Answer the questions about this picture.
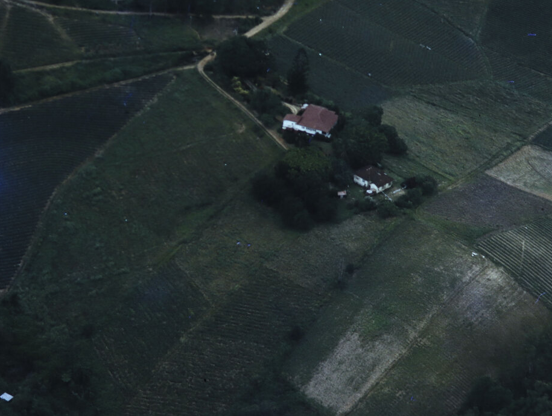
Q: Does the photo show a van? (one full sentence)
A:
No, no van is visible in the view.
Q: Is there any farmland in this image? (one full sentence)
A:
Yes, the picture does contain farmland.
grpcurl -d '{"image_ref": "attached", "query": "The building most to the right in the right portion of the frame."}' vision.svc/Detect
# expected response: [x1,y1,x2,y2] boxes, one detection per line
[354,167,395,196]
